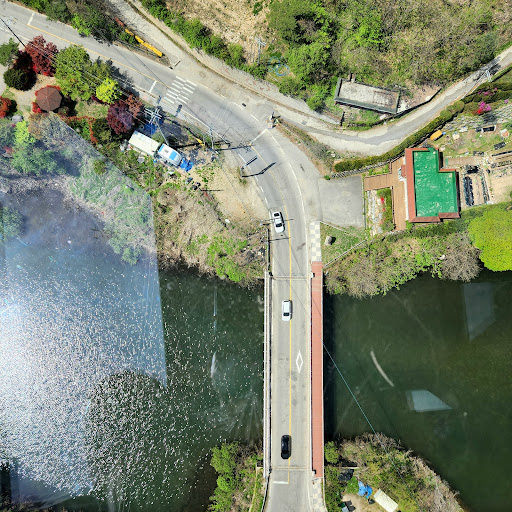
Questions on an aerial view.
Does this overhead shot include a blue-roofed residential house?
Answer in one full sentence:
No, there isn't any blue-roofed residential house down there.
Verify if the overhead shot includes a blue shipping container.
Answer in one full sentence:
No, I find no blue shipping container anywhere in the image.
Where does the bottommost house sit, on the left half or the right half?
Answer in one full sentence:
The bottommost house appears in the right half of the scene.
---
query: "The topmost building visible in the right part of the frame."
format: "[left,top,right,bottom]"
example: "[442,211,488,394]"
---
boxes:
[336,77,400,114]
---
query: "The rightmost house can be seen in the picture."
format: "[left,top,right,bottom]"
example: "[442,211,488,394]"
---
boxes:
[396,148,458,224]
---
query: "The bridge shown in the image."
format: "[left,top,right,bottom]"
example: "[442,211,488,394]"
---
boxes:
[263,262,326,478]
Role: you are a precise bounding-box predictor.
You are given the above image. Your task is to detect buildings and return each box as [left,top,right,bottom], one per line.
[396,148,458,224]
[336,77,400,114]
